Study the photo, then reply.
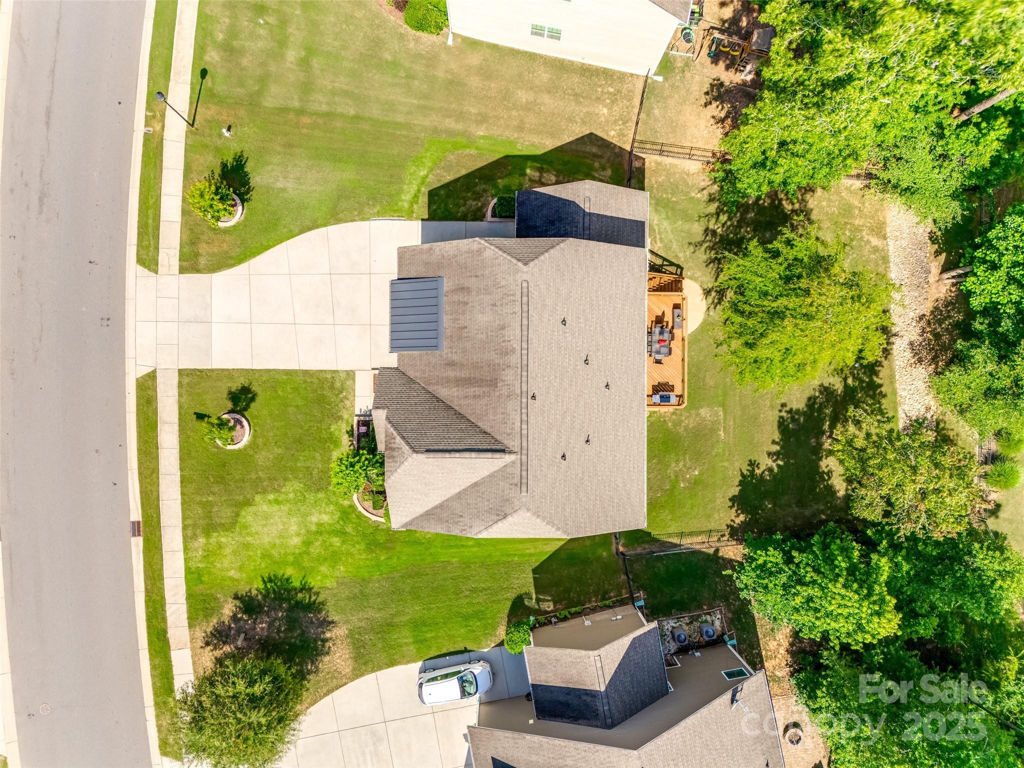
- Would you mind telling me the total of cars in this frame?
one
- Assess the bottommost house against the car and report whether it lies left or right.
on its right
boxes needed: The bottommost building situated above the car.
[372,179,651,541]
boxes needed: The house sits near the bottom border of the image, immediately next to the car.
[466,607,788,768]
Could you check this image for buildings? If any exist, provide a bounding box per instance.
[372,179,651,541]
[442,0,695,77]
[466,607,788,768]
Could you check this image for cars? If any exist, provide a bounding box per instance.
[414,658,493,707]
